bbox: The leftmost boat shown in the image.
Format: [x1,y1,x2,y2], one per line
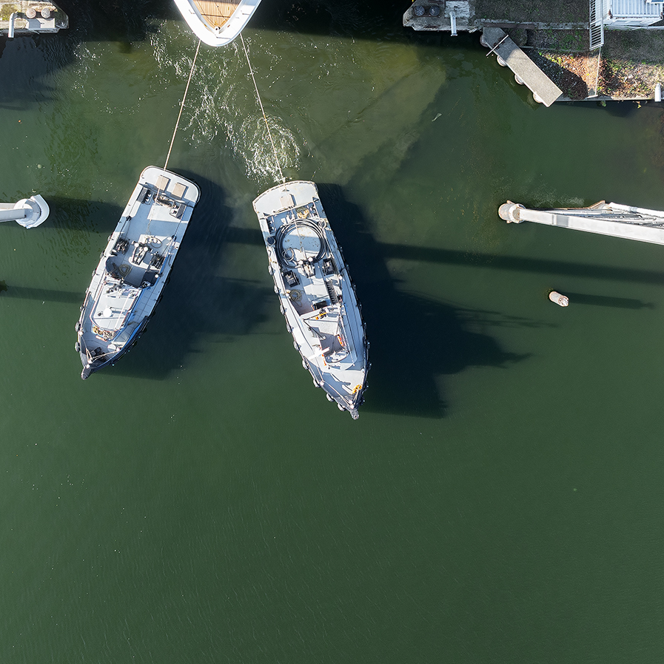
[74,164,203,381]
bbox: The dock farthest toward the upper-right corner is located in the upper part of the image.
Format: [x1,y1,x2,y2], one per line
[477,29,562,107]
